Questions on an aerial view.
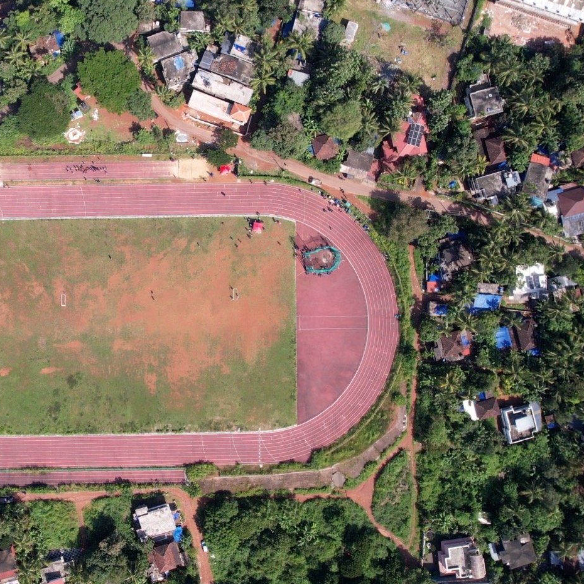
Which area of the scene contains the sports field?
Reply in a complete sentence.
You can find the sports field in the left area of the picture.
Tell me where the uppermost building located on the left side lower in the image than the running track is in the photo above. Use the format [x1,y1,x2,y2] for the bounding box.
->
[137,499,177,543]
